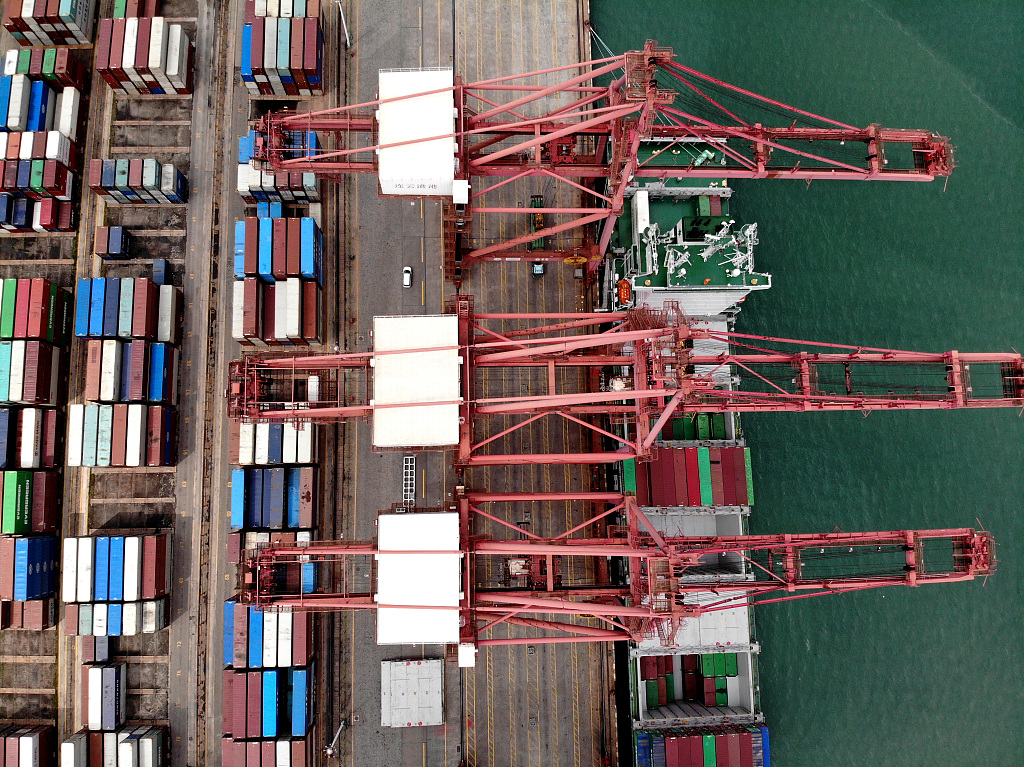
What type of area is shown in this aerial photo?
port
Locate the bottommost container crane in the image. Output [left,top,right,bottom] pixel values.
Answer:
[236,466,1001,674]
